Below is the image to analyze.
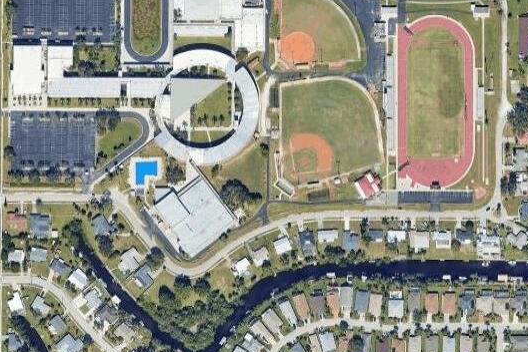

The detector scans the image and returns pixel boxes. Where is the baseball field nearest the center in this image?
[280,77,383,187]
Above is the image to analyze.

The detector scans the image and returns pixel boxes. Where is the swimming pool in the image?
[131,157,161,188]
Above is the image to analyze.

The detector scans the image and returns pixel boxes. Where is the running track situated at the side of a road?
[395,14,475,189]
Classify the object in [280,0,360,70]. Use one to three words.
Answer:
baseball field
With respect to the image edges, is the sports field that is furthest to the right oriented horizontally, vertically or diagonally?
vertically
